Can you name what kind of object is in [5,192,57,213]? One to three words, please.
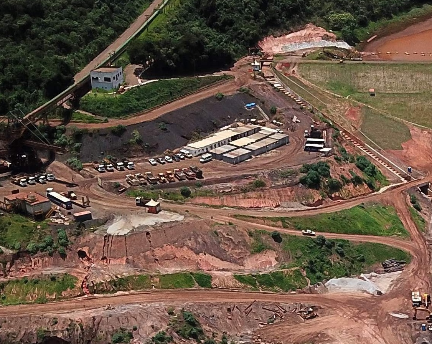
building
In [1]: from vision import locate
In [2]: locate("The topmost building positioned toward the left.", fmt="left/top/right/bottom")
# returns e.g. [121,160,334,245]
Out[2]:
[87,67,123,90]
